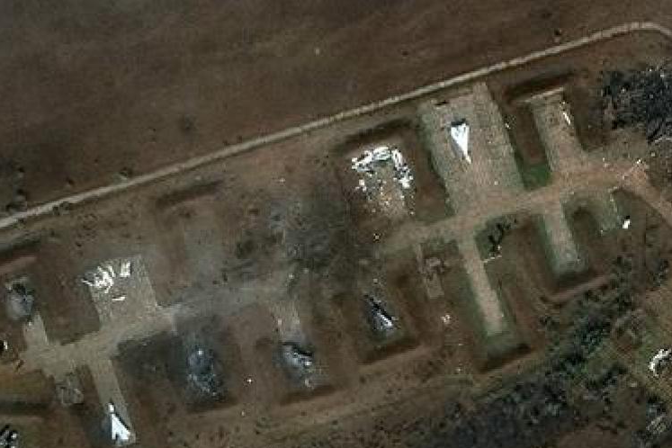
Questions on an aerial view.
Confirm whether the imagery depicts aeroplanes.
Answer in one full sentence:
Yes, the photo shows an aeroplane.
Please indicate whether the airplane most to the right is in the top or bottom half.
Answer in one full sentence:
It is in the top half that the airplane most to the right appears.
